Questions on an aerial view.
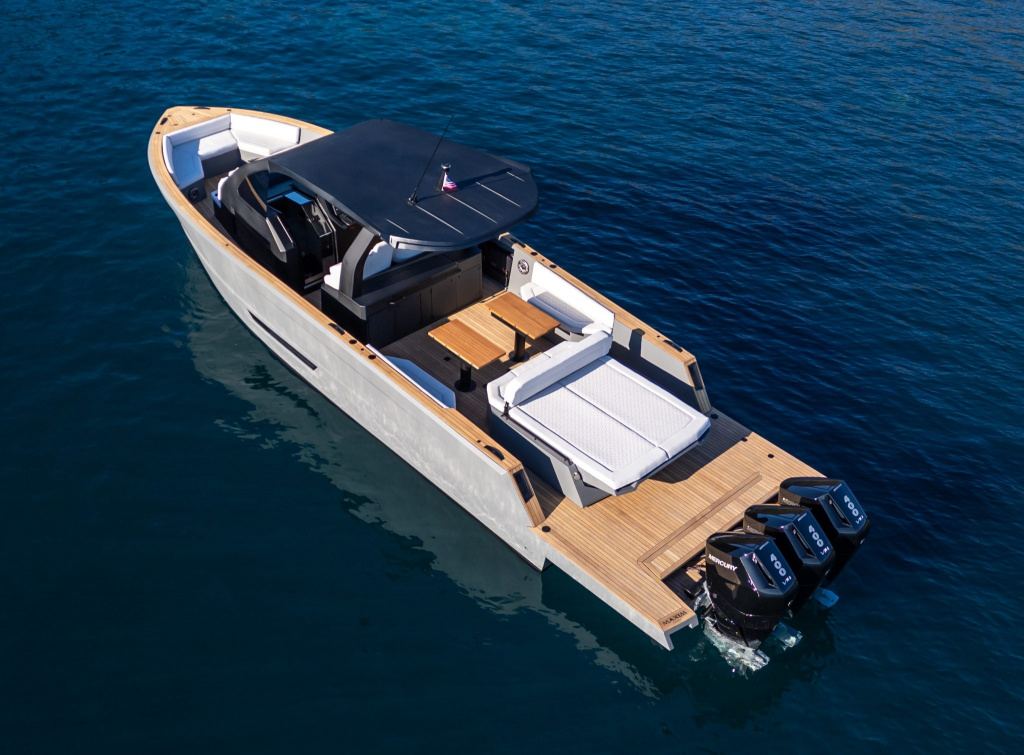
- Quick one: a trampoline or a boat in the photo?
boat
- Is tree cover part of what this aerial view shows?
No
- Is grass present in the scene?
No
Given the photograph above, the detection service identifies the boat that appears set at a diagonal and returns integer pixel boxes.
[148,106,824,651]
